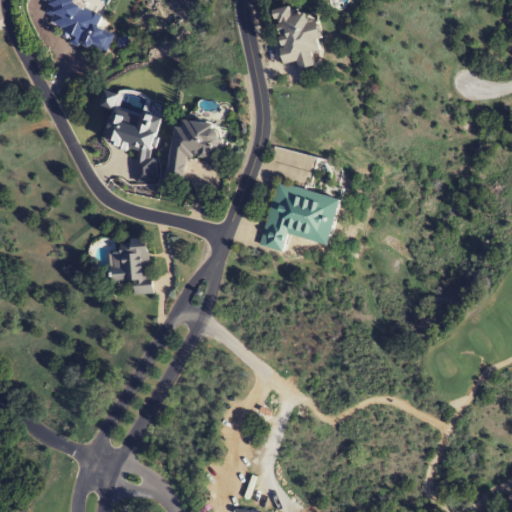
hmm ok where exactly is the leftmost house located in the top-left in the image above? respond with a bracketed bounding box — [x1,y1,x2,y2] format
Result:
[46,0,116,50]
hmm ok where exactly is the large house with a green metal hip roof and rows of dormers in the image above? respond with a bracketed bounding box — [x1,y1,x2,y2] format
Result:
[260,184,342,252]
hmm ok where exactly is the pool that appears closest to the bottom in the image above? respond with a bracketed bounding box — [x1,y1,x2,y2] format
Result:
[91,238,116,266]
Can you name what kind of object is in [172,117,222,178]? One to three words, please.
house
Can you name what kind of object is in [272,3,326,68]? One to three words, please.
house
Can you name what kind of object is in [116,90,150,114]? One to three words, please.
swimming pool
